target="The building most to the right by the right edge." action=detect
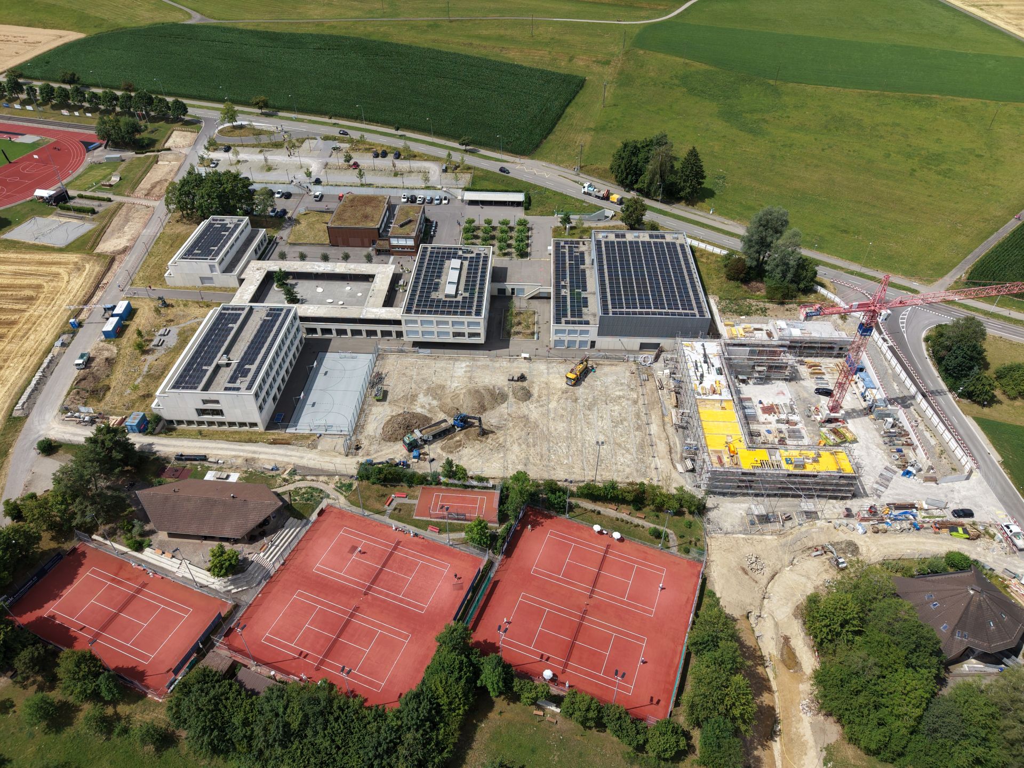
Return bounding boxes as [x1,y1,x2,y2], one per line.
[893,565,1024,657]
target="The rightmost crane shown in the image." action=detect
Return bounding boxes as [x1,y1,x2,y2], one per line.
[806,270,1024,428]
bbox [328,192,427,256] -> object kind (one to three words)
building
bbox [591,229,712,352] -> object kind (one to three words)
building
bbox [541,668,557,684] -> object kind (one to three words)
umbrella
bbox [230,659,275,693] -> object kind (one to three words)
shed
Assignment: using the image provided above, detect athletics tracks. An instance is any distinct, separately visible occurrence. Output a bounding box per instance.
[0,123,106,210]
